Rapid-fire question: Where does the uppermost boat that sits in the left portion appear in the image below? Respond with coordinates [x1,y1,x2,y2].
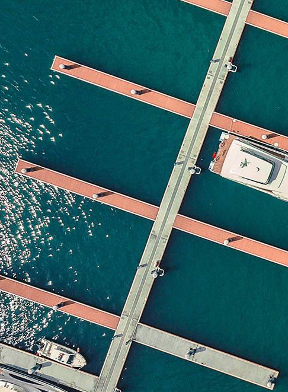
[36,340,88,367]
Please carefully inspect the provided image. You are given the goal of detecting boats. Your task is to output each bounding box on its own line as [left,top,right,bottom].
[36,340,88,367]
[209,133,288,202]
[0,362,68,392]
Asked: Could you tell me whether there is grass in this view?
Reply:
No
